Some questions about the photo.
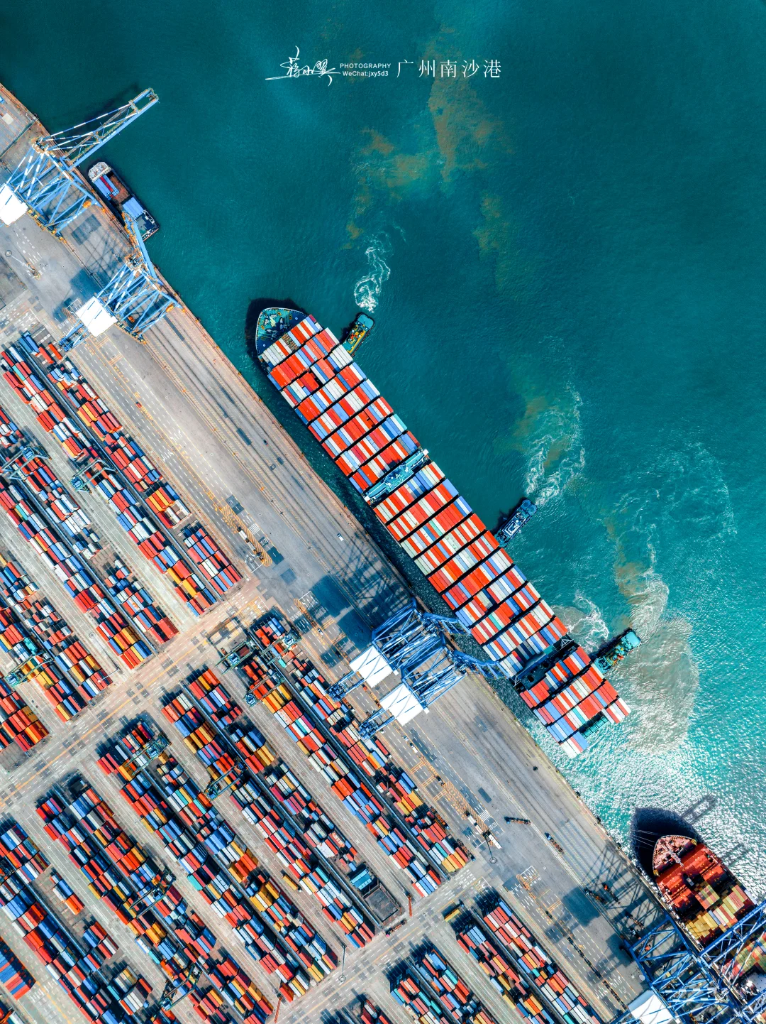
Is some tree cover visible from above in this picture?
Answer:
No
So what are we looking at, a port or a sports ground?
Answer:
port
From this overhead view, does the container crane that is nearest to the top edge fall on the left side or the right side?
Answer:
left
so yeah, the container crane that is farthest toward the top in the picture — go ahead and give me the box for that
[0,90,159,250]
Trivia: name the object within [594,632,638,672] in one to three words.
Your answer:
boat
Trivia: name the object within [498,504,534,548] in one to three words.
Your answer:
boat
